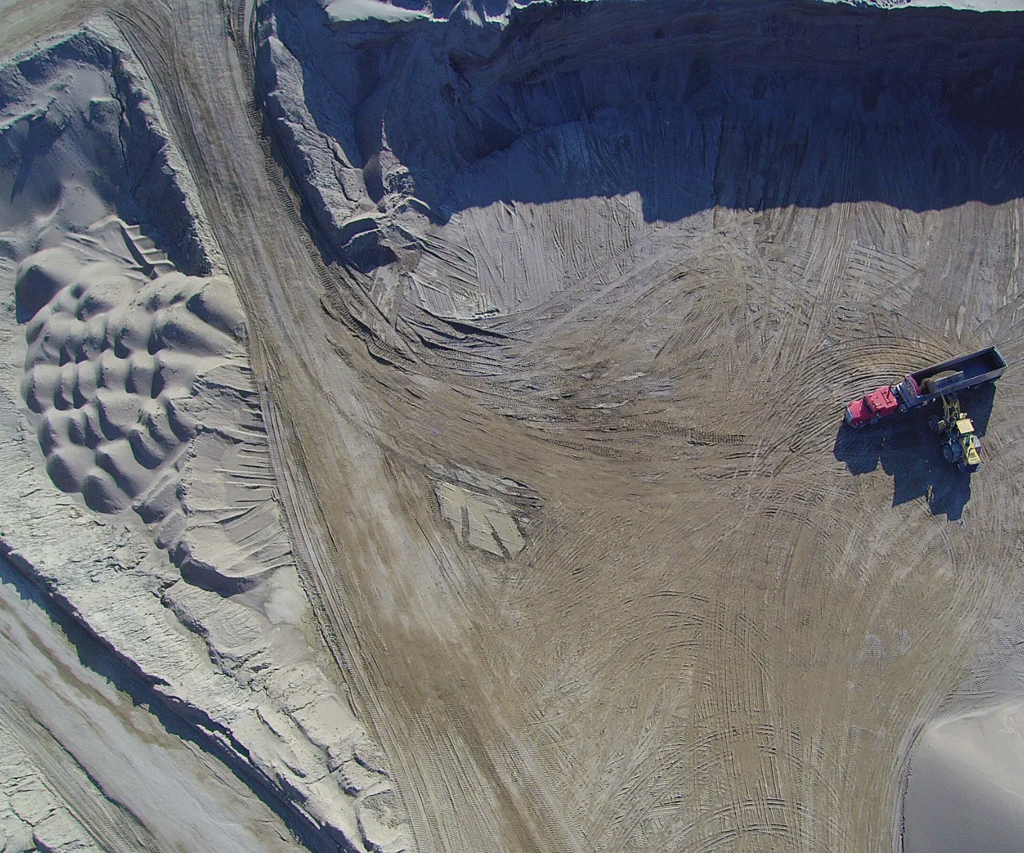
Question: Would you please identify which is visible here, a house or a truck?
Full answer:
There is a truck in the scene.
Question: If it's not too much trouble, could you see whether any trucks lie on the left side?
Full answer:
No, on the left side there is no truck.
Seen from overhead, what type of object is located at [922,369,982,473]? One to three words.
work vehicle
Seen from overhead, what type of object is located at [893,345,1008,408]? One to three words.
trailer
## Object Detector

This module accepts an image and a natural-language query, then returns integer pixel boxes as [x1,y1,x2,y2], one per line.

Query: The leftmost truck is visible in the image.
[842,383,911,429]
